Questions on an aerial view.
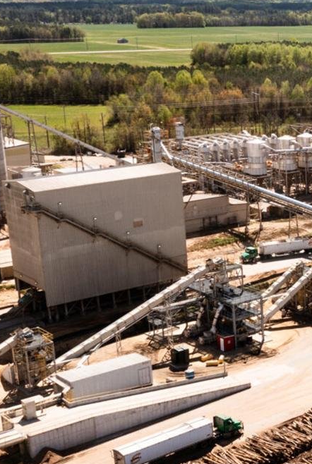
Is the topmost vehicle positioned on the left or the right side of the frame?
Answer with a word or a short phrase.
right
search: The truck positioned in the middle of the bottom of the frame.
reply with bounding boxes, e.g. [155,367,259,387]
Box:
[115,421,244,464]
